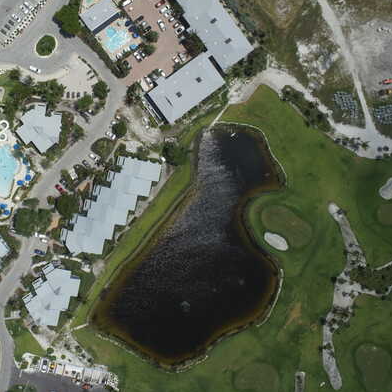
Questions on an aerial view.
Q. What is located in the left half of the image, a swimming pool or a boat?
swimming pool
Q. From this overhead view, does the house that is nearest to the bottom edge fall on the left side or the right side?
left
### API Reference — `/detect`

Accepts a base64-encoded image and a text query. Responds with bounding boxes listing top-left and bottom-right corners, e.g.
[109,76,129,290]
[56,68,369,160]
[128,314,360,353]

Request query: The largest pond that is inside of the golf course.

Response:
[90,125,285,367]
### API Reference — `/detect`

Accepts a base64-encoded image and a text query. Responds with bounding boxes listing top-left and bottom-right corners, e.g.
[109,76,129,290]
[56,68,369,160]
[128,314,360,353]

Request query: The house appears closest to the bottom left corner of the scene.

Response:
[23,262,80,326]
